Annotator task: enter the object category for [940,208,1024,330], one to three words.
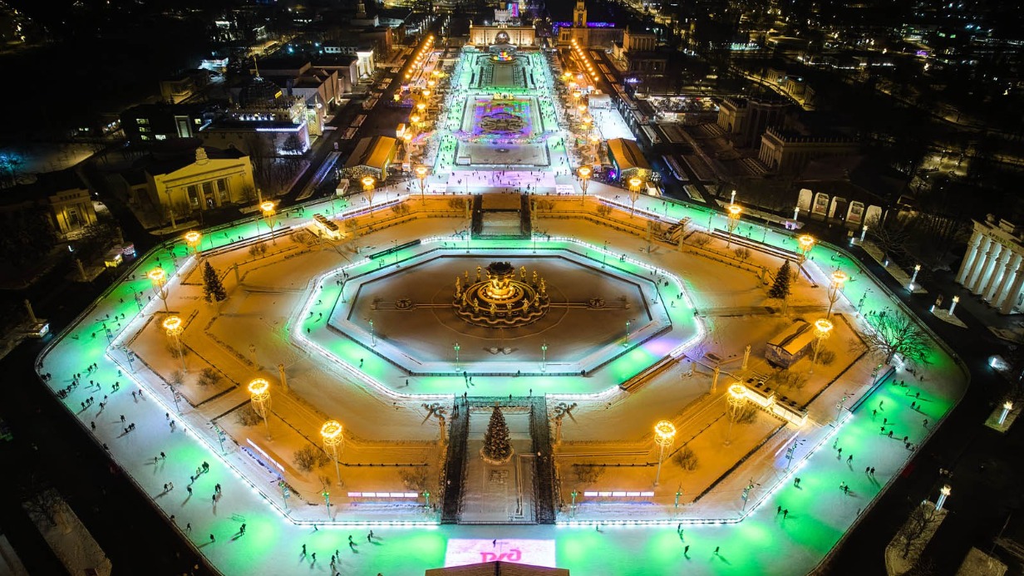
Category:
building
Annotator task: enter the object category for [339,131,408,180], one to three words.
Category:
building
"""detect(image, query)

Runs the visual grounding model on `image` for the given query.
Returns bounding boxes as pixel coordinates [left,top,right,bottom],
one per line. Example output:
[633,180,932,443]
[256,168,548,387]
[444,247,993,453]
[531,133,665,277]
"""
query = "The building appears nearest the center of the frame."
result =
[482,188,521,211]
